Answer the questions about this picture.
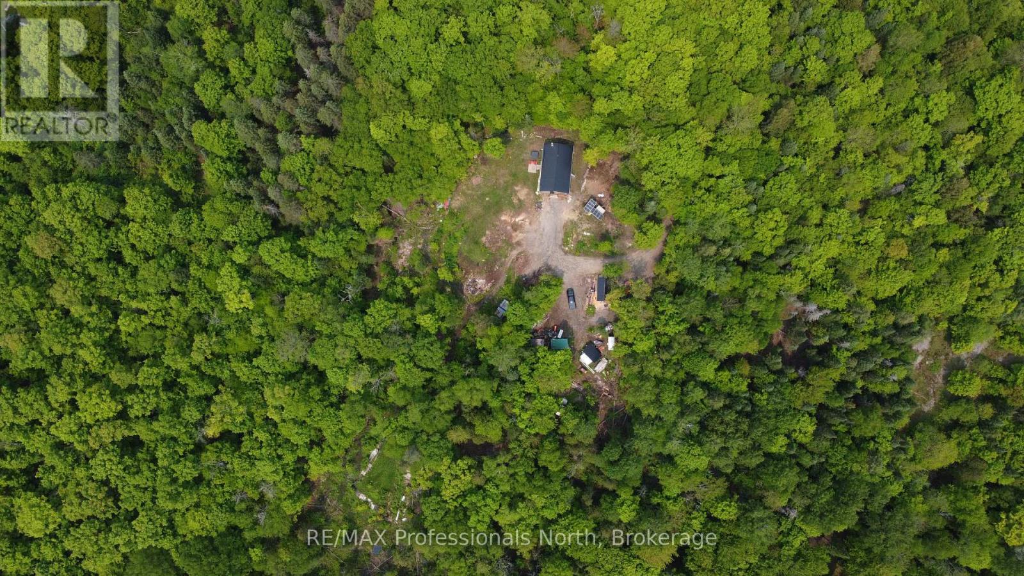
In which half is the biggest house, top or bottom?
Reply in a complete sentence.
The biggest house is in the top half of the image.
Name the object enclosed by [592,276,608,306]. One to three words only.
shed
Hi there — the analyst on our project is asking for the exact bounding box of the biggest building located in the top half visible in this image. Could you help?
[537,143,575,205]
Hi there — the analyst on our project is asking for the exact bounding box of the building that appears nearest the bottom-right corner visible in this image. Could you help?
[578,343,603,364]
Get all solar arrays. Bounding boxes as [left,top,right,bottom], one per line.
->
[591,206,605,219]
[584,198,598,213]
